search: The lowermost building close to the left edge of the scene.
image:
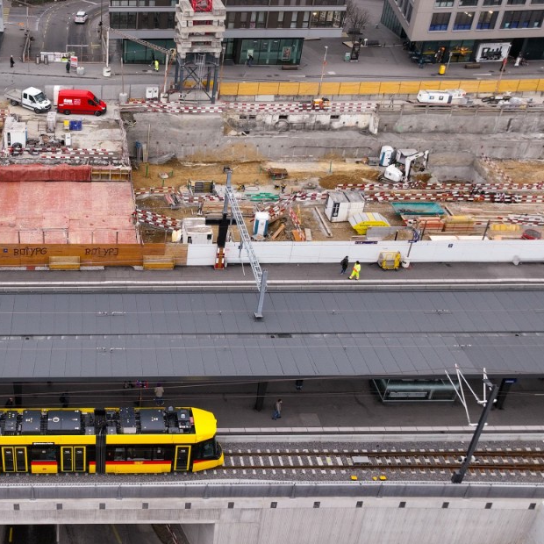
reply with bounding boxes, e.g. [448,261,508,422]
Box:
[2,120,30,149]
